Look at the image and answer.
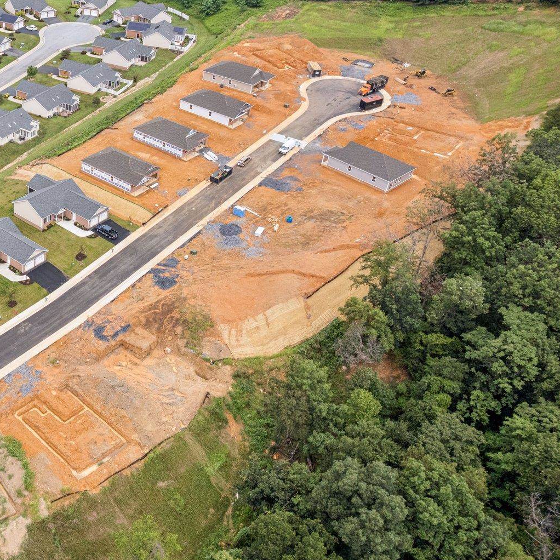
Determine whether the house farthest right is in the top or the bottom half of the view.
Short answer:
top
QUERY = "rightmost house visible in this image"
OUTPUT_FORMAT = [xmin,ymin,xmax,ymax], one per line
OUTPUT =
[316,135,415,193]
